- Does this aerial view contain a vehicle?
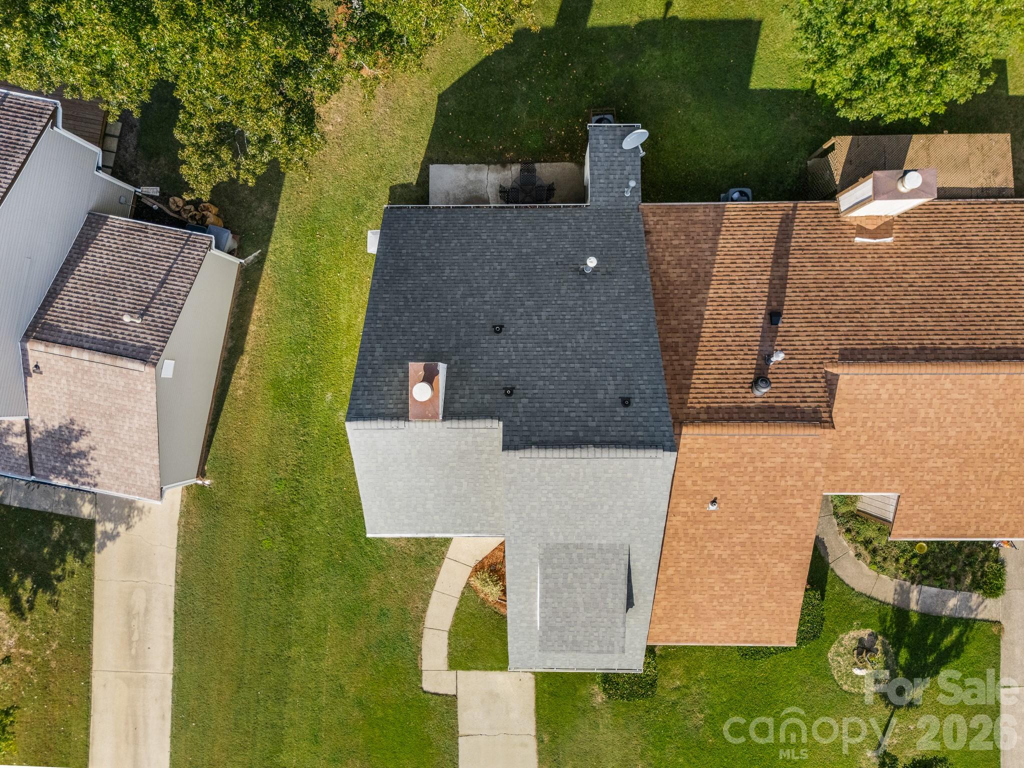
No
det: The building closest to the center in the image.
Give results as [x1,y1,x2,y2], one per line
[347,125,678,673]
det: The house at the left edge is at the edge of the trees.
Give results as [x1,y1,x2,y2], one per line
[0,93,248,505]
